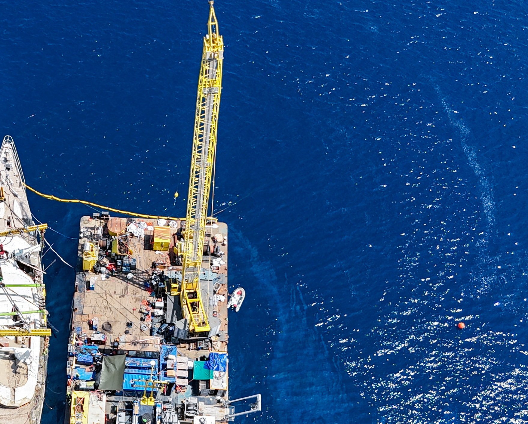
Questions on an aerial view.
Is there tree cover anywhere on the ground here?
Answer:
No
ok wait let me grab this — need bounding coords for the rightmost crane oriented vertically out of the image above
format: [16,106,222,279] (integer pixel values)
[165,0,222,342]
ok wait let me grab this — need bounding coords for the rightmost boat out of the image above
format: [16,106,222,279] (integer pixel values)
[227,287,246,311]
